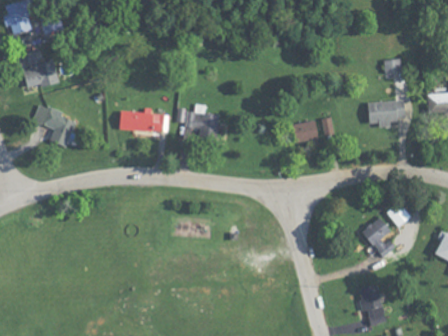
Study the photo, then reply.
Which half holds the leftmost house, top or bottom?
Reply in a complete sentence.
You can find the leftmost house in the top half.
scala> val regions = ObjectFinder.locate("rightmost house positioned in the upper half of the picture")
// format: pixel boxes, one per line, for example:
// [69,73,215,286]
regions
[428,88,448,118]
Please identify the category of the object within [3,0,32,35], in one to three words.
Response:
house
